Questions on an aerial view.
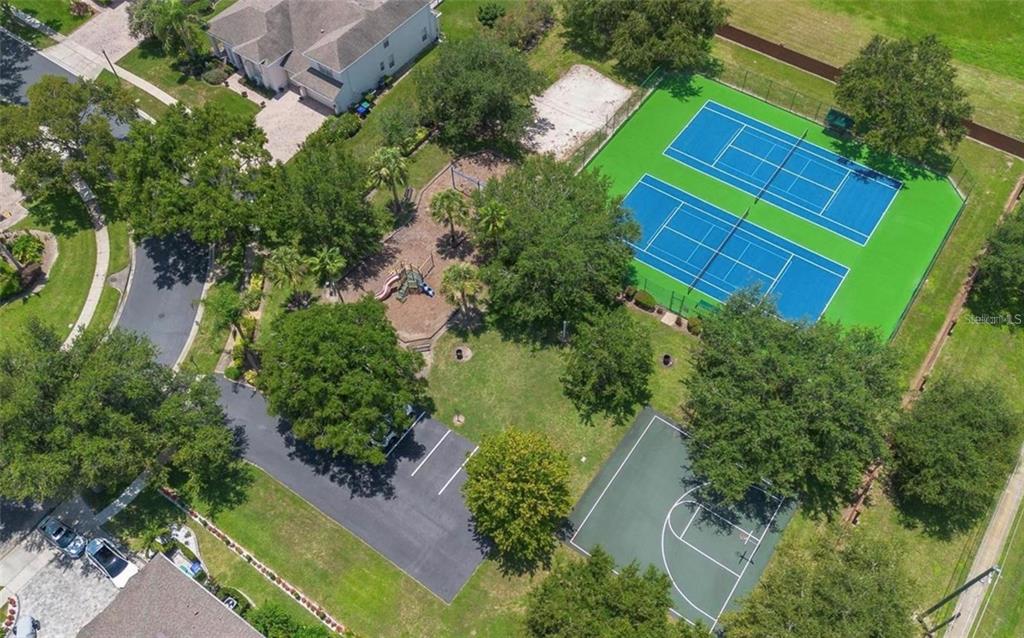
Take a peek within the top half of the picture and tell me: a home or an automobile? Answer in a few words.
home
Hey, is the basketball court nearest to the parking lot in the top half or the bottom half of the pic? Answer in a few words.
bottom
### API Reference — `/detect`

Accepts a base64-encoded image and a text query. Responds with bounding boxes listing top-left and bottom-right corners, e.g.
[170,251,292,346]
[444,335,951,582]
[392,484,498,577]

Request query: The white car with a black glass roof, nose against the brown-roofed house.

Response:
[79,539,134,590]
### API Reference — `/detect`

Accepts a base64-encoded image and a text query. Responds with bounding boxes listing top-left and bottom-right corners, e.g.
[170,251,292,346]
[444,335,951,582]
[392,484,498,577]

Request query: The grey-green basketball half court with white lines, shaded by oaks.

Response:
[556,407,802,638]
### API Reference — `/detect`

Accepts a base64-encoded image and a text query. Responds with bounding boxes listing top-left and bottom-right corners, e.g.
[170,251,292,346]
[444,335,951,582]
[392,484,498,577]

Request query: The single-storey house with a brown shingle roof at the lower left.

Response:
[69,556,265,638]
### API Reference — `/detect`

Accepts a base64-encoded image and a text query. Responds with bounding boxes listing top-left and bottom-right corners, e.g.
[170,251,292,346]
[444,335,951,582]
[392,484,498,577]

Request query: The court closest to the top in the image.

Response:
[508,60,636,169]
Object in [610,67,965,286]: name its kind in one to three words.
tennis court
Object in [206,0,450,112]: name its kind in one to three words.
house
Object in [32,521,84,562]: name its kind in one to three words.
car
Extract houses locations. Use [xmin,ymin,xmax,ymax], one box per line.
[69,556,265,638]
[206,0,450,112]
